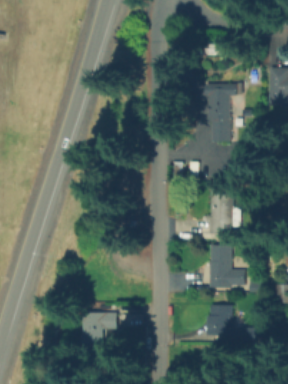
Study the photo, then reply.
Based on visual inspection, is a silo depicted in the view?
No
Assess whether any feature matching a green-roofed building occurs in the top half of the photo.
No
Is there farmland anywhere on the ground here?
No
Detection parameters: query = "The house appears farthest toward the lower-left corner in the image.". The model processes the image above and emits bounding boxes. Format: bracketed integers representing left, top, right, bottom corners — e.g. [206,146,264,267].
[83,312,118,340]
